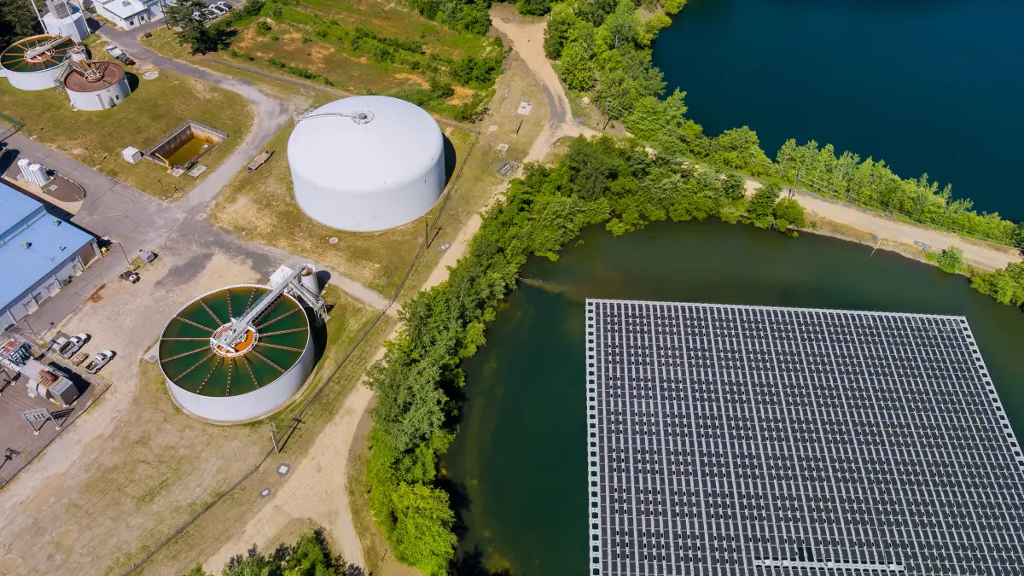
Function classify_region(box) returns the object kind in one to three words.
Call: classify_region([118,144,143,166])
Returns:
shed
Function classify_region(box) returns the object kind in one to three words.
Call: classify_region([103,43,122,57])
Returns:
vehicle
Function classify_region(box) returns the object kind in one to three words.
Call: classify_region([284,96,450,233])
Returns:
storage tank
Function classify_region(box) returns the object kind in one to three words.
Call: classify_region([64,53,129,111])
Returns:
storage tank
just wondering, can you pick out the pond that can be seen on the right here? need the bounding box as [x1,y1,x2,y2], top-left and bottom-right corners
[440,222,1024,576]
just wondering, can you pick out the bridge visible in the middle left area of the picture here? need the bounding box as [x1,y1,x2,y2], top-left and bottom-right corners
[213,263,309,352]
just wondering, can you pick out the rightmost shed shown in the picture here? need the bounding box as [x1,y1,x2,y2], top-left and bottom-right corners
[266,268,297,299]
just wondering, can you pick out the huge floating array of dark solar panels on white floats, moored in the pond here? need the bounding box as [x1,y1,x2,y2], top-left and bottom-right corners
[586,298,1024,576]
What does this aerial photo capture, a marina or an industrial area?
industrial area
